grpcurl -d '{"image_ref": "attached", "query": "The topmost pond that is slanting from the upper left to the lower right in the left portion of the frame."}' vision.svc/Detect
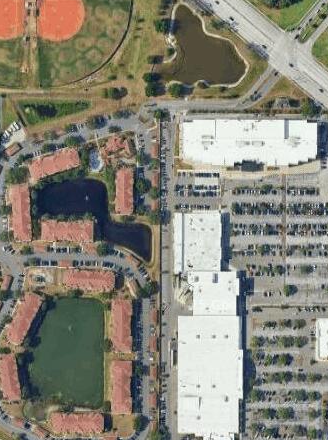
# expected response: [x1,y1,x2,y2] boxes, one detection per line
[36,179,151,261]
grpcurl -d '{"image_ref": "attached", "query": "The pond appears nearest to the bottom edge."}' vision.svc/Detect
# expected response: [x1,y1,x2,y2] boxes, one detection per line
[29,297,104,409]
